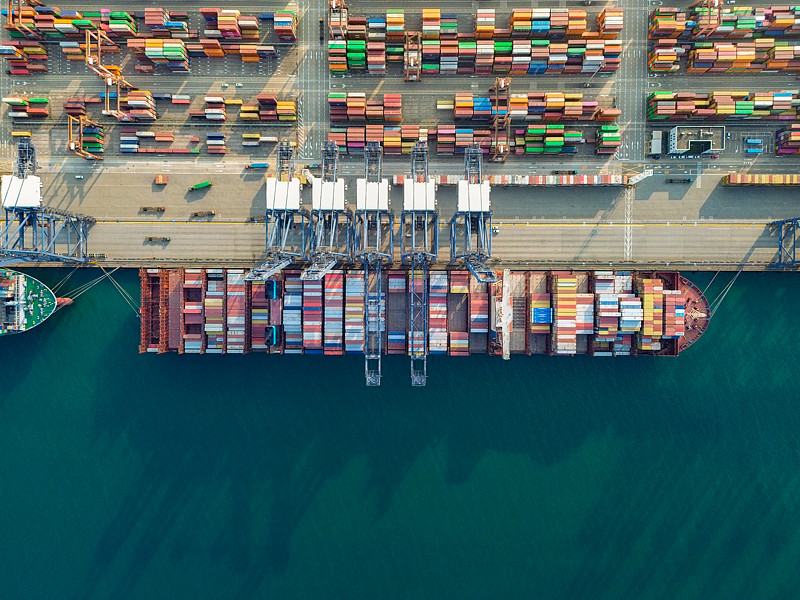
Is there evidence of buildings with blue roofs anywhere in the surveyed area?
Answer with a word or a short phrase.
No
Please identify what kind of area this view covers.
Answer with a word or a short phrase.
port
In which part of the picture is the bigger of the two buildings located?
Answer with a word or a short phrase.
top right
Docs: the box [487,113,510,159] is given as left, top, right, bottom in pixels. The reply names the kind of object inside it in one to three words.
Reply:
container crane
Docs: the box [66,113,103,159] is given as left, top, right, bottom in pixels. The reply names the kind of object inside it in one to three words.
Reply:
container crane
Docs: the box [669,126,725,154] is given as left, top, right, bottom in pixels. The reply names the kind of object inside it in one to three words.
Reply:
building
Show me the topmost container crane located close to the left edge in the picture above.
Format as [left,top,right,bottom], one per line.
[7,0,47,41]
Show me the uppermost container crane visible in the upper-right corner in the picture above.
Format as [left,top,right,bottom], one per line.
[686,0,722,41]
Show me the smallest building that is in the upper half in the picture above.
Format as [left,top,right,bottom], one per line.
[647,131,662,155]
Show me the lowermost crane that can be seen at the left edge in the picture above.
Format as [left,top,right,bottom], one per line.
[0,137,104,267]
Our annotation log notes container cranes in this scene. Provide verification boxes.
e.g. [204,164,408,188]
[86,28,121,79]
[402,30,421,80]
[487,74,510,123]
[297,138,357,280]
[105,74,139,123]
[395,139,442,387]
[66,113,103,159]
[0,137,104,267]
[354,138,398,387]
[328,0,349,41]
[487,113,510,159]
[686,0,722,41]
[238,138,319,280]
[441,139,507,281]
[7,0,47,41]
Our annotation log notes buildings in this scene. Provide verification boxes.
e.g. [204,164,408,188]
[669,126,725,154]
[647,131,662,155]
